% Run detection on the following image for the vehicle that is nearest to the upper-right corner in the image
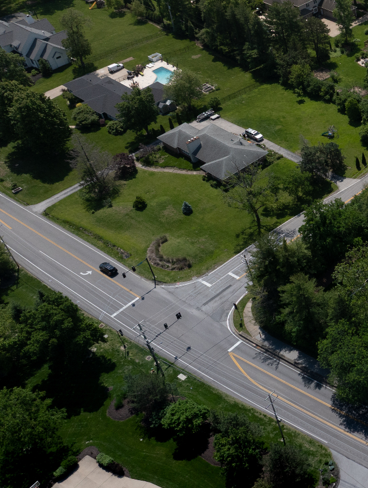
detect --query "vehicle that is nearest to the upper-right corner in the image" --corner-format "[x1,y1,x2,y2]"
[244,126,263,140]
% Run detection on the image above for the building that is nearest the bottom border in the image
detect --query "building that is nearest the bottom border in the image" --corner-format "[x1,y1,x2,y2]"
[158,116,264,181]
